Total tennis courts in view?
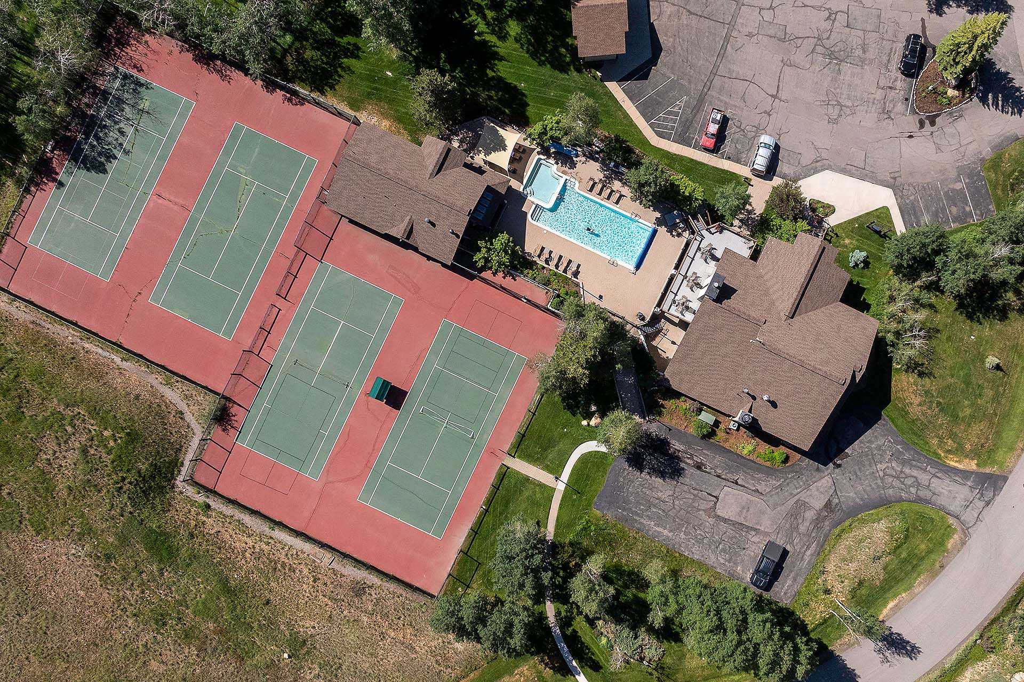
4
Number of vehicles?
4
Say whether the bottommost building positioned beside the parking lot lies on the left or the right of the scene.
right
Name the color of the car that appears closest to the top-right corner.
black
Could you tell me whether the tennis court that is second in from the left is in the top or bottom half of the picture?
top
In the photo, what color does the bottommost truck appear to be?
black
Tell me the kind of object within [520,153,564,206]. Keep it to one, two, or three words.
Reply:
swimming pool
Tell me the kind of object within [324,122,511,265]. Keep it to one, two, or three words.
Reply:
building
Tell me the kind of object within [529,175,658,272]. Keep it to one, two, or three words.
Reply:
swimming pool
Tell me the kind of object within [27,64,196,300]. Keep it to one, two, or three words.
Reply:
tennis court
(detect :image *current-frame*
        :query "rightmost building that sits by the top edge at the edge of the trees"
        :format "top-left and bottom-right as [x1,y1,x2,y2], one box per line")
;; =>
[572,0,628,63]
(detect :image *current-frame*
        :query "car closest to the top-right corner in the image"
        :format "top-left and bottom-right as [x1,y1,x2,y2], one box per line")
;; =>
[900,29,927,76]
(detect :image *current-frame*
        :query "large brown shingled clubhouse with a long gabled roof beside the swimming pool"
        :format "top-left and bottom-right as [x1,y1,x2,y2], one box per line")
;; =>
[664,232,879,451]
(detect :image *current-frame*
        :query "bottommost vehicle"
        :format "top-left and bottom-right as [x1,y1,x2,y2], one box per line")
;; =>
[754,540,787,594]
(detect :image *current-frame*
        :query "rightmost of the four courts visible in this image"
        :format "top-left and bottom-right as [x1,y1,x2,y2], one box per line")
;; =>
[357,300,528,541]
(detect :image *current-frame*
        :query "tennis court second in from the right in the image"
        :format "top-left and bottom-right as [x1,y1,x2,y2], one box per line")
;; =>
[234,260,405,495]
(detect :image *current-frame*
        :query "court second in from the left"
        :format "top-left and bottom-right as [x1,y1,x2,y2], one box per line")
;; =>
[148,122,318,341]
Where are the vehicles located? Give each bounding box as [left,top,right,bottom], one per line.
[753,132,778,176]
[900,29,927,76]
[754,540,787,594]
[701,103,729,150]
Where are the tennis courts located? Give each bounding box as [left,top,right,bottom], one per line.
[148,122,318,341]
[234,260,405,495]
[27,64,196,300]
[357,300,528,541]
